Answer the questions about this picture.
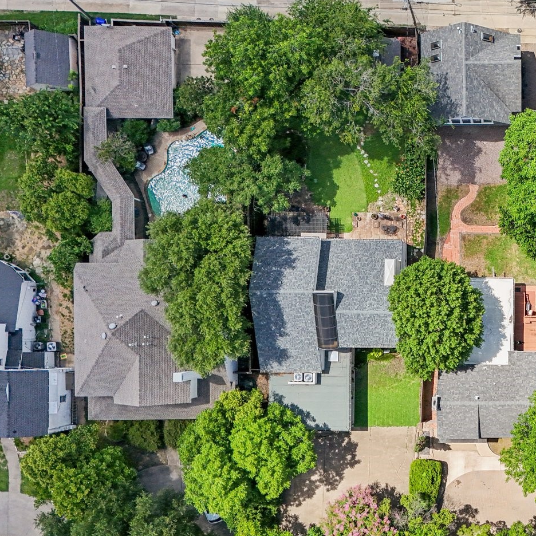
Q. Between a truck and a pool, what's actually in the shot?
pool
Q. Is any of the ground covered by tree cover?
Yes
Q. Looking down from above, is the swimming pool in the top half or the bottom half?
top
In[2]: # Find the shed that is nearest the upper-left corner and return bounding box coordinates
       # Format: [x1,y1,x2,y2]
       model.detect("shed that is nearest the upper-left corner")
[24,30,78,92]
